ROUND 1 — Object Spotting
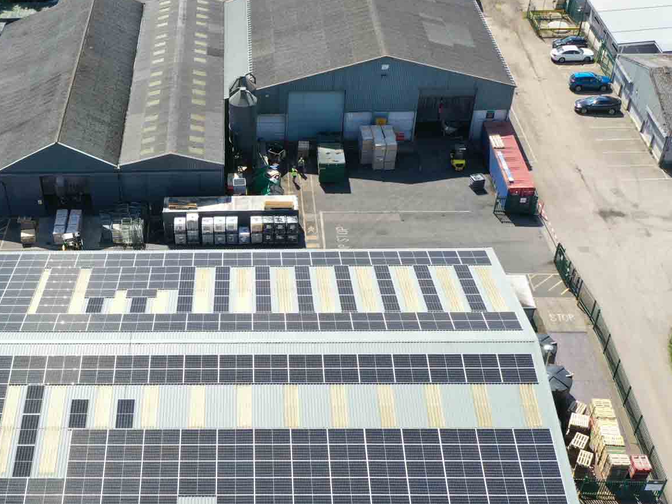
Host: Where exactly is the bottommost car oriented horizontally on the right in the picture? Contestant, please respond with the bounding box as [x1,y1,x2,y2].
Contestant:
[576,96,624,115]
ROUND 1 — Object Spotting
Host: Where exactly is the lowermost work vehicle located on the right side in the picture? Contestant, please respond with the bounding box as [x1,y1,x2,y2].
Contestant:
[451,141,466,168]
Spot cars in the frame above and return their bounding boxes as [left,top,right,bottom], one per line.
[553,30,591,47]
[576,96,624,115]
[569,72,612,92]
[552,45,593,62]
